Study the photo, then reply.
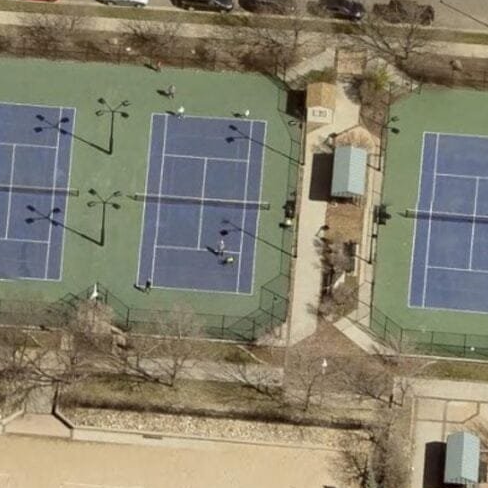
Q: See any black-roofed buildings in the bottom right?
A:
No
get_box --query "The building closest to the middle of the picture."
[327,144,369,212]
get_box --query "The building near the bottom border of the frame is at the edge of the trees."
[441,431,483,488]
